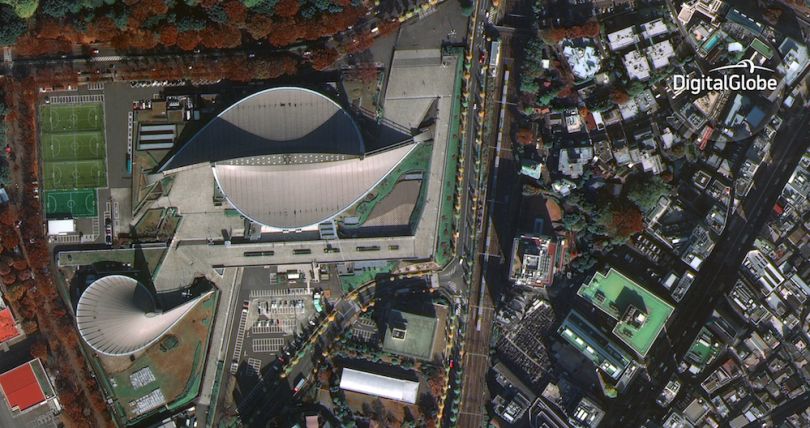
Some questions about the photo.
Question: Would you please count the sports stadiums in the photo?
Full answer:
Looking from above, you can make out 2 sports stadiums.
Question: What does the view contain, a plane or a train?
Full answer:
Of the two, only a train appears.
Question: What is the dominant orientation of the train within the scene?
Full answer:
What the image shows is the train lying up and down.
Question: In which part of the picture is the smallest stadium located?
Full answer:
The smallest stadium is located in the bottom left region of the scene.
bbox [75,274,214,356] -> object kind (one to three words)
stadium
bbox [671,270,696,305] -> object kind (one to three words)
building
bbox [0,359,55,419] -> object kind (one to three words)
building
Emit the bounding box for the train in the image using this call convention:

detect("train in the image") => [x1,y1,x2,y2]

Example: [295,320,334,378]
[477,61,509,331]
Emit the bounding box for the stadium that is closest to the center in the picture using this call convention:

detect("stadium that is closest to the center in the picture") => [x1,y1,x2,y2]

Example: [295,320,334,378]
[146,86,436,232]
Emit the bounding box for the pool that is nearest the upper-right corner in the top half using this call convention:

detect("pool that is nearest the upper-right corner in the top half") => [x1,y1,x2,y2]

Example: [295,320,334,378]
[698,32,721,57]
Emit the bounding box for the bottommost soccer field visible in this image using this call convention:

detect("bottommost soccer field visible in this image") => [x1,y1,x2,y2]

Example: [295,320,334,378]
[45,189,97,218]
